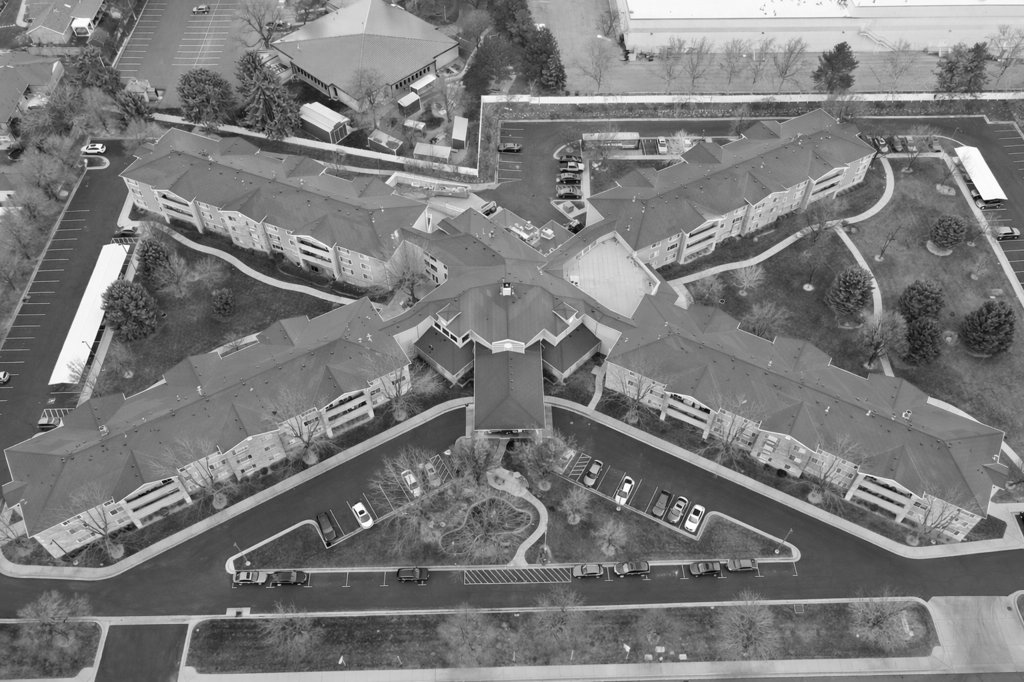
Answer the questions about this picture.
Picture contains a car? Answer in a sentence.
Yes, looking at the shot, I can spot a car.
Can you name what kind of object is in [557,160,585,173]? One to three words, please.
vehicle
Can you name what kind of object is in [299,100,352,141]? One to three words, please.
barn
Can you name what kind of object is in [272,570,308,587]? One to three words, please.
car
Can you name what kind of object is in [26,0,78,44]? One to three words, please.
house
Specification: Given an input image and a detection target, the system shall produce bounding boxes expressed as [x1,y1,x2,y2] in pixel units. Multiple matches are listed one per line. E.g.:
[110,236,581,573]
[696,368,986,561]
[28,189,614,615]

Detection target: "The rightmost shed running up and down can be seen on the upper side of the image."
[452,116,468,151]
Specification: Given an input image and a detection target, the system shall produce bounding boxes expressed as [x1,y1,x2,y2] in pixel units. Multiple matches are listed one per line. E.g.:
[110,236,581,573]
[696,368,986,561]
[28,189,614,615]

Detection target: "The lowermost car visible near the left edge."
[34,415,66,430]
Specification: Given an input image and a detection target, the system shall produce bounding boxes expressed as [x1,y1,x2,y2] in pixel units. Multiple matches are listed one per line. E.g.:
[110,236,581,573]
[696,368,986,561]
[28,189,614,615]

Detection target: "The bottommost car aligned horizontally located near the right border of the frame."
[993,227,1019,239]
